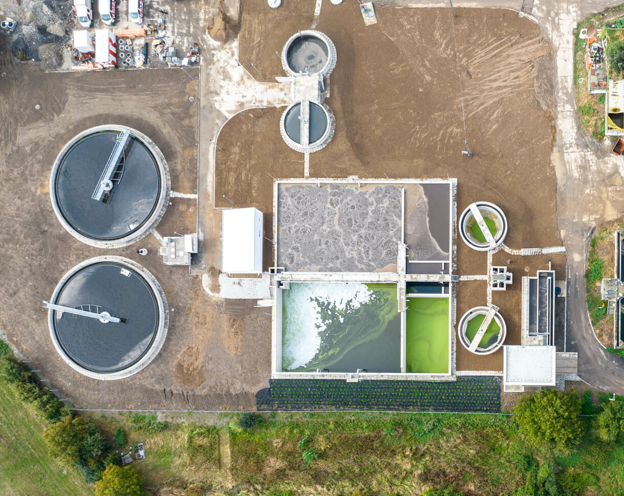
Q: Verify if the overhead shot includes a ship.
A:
No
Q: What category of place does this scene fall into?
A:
industrial area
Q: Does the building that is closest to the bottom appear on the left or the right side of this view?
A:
right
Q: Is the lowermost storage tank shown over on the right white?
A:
Yes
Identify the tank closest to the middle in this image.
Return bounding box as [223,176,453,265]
[280,100,336,152]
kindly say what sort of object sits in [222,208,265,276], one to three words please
building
